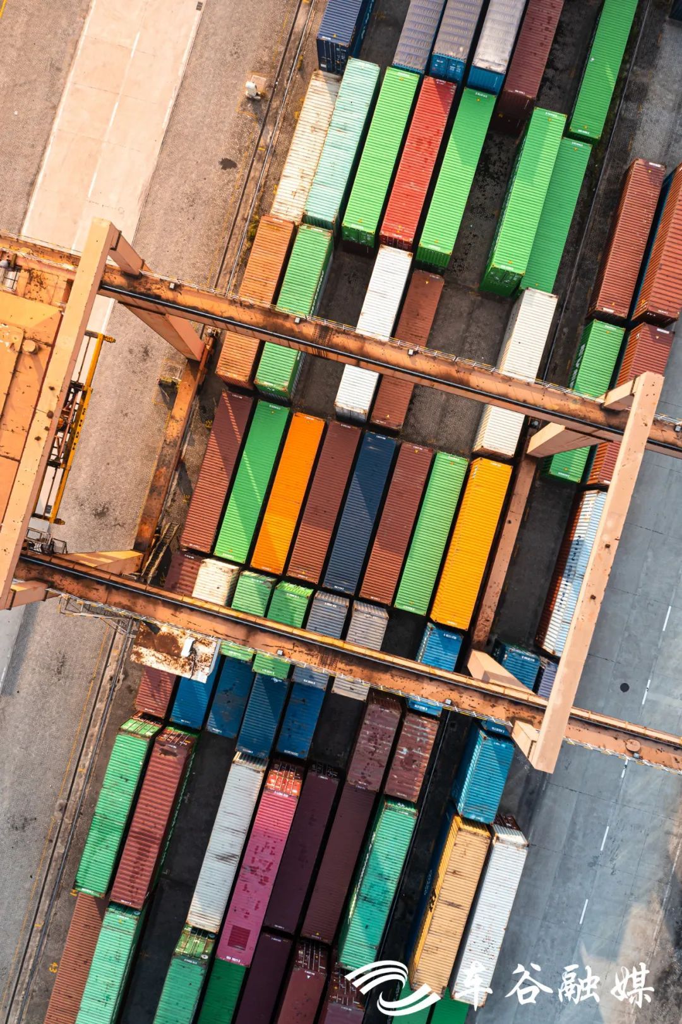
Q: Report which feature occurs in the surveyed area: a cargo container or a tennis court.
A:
cargo container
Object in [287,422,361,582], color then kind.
red shipping container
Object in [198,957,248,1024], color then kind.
green shipping container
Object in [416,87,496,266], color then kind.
green shipping container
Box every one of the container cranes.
[0,218,682,777]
